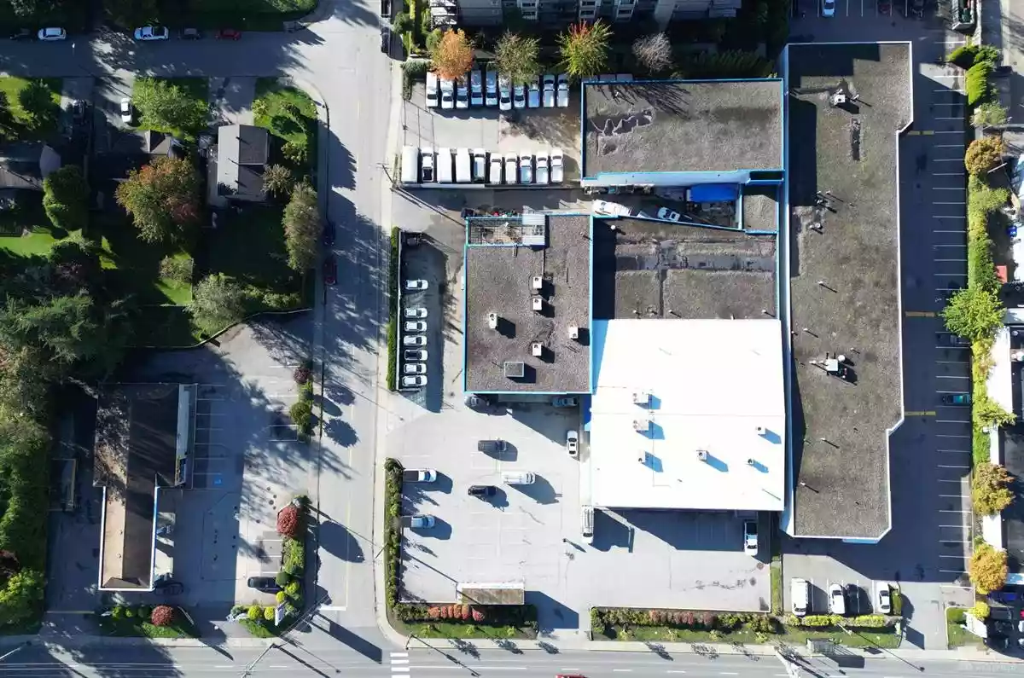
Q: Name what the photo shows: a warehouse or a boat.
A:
warehouse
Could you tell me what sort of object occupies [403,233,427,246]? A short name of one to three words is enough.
vehicle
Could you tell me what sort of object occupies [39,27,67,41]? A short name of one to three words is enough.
car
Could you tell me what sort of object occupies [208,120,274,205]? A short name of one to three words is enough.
house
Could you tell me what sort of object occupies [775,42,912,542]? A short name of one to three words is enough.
warehouse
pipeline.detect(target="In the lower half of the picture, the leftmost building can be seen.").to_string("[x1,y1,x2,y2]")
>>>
[94,383,197,590]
